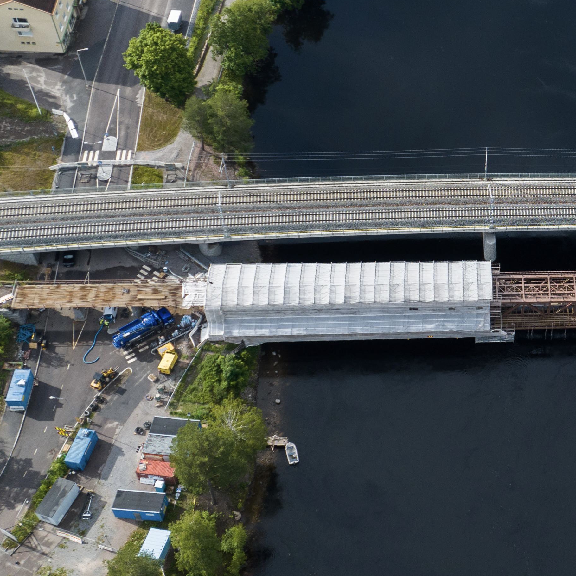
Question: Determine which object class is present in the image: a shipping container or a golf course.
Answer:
shipping container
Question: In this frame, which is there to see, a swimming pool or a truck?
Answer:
truck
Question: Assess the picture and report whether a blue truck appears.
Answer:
Yes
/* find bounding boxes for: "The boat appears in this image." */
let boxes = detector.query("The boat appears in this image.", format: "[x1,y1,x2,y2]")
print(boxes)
[286,441,299,466]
